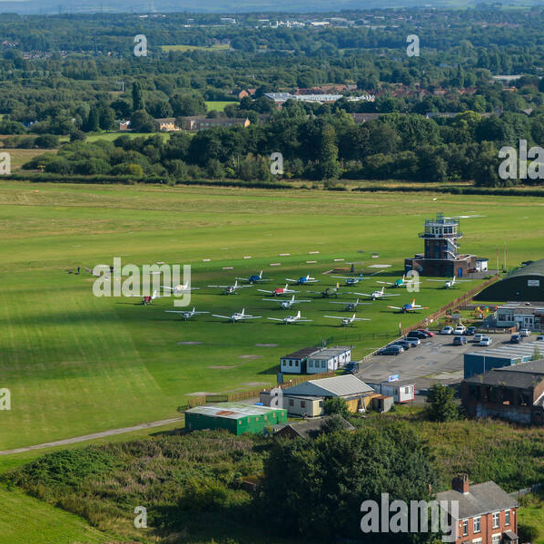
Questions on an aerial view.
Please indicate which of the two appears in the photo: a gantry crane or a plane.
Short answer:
plane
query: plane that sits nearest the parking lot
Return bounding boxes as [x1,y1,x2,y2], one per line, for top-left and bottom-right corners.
[385,300,430,315]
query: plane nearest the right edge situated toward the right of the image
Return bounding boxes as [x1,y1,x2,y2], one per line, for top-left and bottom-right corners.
[430,274,468,289]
